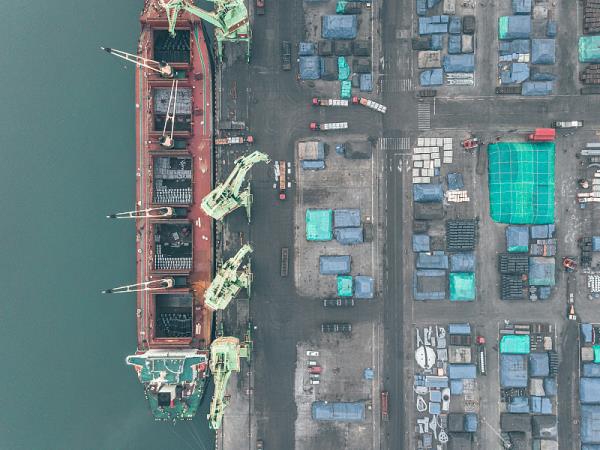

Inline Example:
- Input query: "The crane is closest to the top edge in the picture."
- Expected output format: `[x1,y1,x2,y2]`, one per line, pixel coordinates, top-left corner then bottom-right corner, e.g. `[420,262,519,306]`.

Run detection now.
[162,0,257,58]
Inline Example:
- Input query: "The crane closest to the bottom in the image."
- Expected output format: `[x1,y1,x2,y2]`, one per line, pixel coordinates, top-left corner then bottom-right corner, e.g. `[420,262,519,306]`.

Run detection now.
[206,322,253,429]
